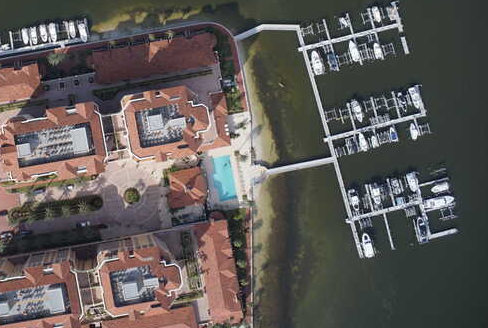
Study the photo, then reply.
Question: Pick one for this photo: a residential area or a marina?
marina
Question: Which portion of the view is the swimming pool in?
center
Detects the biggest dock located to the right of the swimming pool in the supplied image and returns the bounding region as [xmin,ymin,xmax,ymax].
[232,3,459,258]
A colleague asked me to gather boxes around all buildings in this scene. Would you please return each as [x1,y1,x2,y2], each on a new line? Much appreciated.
[2,97,108,182]
[0,244,84,328]
[195,91,231,155]
[0,64,42,102]
[193,218,244,324]
[99,240,182,316]
[121,82,210,158]
[169,167,209,223]
[94,34,220,84]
